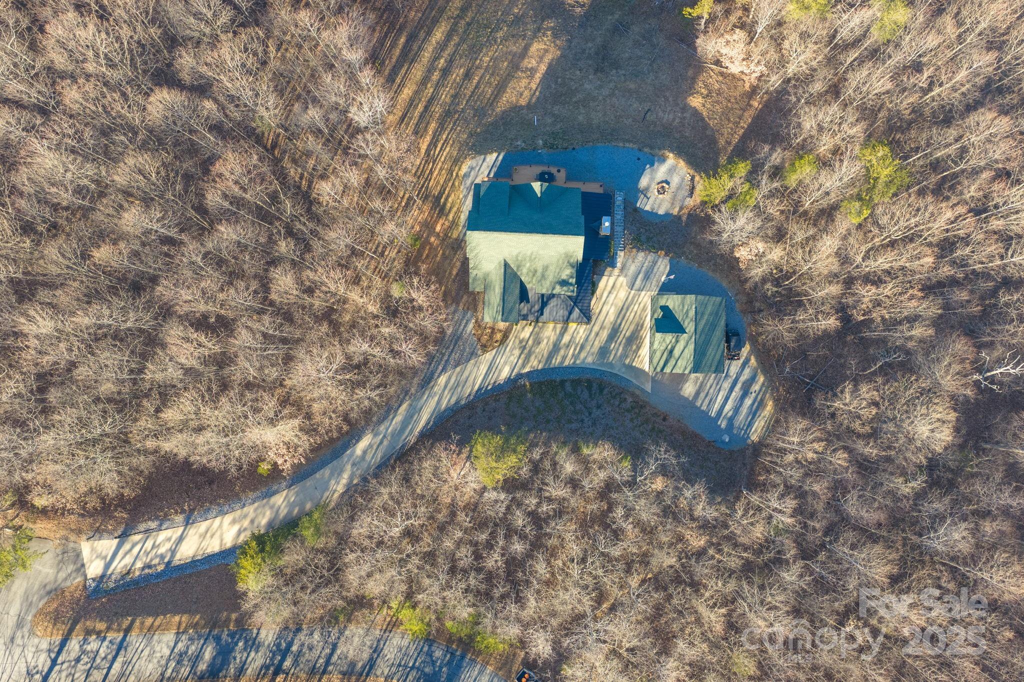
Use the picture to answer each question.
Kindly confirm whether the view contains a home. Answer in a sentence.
Yes, I can see a home in this picture.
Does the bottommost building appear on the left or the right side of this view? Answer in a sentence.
It is on the right.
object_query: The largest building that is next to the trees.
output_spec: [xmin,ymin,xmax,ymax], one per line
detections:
[466,182,613,324]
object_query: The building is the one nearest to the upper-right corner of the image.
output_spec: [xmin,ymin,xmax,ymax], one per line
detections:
[648,294,727,374]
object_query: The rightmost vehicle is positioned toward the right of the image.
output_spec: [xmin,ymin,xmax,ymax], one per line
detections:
[727,332,745,361]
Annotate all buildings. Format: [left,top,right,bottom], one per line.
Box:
[466,182,613,324]
[648,294,727,374]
